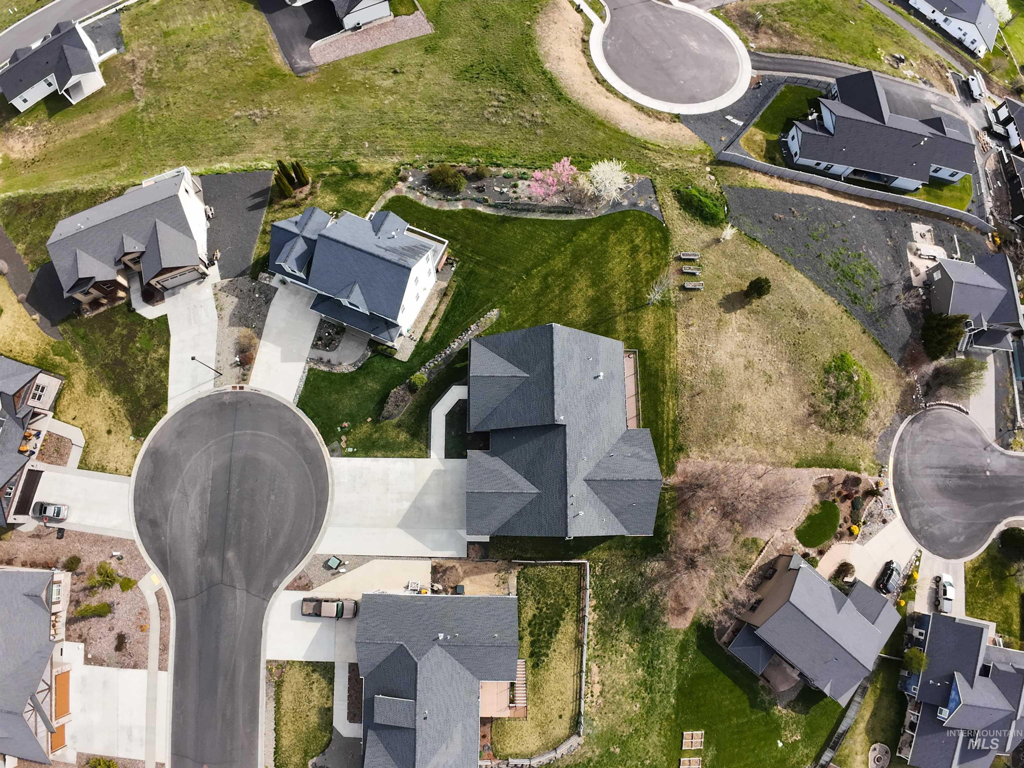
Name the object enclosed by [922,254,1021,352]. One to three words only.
house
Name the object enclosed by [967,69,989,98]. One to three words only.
vehicle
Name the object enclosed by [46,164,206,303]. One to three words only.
house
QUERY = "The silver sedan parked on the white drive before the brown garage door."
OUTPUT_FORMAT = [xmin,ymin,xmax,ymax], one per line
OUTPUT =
[26,504,67,522]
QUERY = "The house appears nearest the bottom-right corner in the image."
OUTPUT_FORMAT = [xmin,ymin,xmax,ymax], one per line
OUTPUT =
[894,612,1024,768]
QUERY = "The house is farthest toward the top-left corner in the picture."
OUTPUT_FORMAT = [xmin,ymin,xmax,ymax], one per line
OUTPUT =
[0,15,107,111]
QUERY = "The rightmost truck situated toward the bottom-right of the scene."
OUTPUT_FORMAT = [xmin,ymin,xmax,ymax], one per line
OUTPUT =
[936,574,958,615]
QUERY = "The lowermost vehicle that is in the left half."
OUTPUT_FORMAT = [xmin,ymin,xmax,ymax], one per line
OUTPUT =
[298,599,357,622]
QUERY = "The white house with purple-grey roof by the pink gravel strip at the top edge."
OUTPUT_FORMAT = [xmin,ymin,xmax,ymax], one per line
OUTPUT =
[336,0,394,30]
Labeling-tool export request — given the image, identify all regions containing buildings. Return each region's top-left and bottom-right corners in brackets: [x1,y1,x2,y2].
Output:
[792,66,983,190]
[922,254,1021,352]
[990,93,1024,146]
[268,202,448,349]
[336,0,394,30]
[355,592,527,768]
[0,570,78,767]
[722,563,905,709]
[467,326,660,542]
[0,15,107,111]
[0,353,65,529]
[894,612,1024,768]
[994,154,1024,212]
[46,164,206,303]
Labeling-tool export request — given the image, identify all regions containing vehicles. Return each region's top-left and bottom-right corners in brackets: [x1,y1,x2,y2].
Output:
[967,69,989,98]
[877,558,902,596]
[26,504,67,522]
[936,574,958,615]
[298,599,357,622]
